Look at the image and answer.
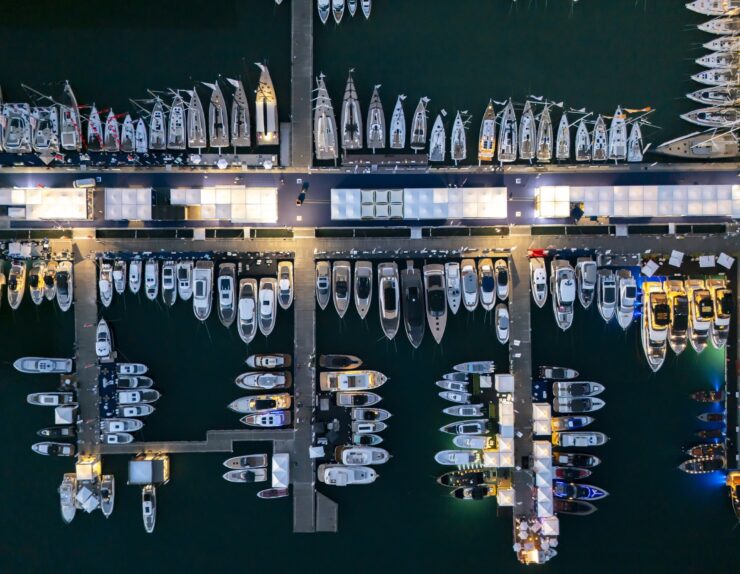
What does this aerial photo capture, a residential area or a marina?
marina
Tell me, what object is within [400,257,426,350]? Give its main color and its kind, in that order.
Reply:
black boat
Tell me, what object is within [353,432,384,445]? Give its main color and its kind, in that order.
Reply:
blue boat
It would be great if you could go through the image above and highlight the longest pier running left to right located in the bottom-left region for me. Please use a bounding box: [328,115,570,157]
[100,429,293,455]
